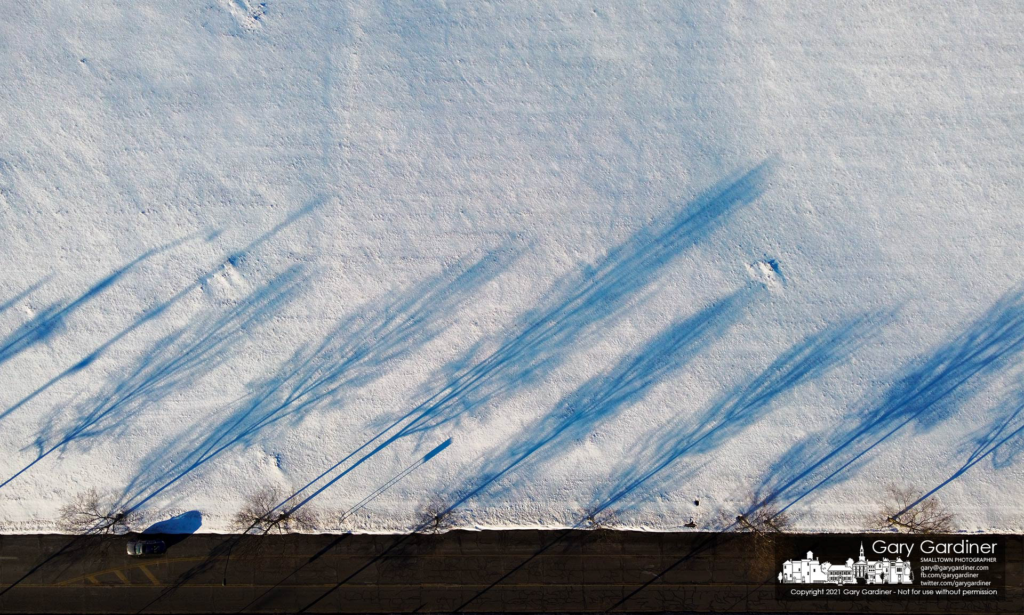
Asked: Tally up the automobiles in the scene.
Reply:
1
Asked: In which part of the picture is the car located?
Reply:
bottom left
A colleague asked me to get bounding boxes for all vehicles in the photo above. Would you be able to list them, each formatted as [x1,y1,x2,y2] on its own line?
[127,539,168,560]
